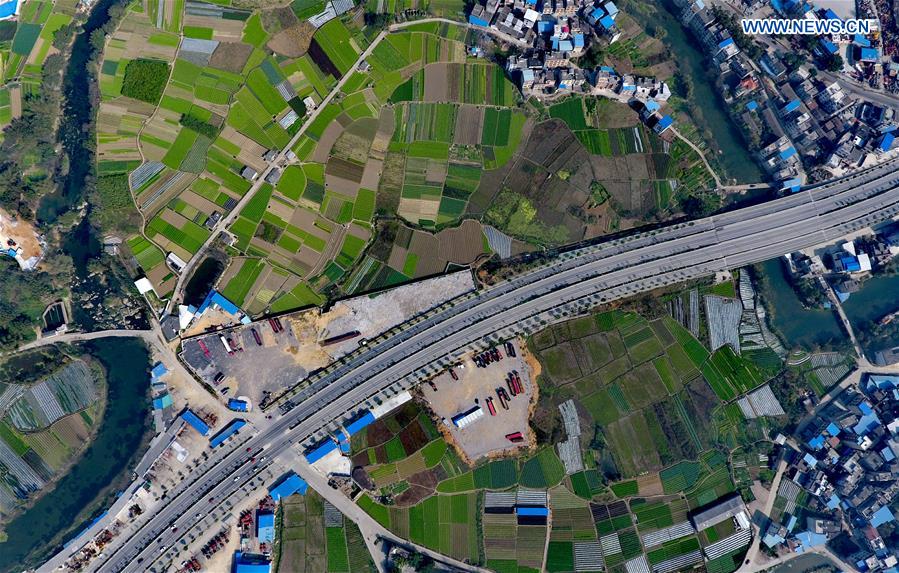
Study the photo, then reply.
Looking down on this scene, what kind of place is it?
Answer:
residential area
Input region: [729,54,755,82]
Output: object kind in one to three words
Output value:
house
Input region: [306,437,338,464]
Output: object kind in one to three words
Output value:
shed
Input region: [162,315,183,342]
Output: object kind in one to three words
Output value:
house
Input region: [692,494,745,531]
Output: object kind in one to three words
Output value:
shed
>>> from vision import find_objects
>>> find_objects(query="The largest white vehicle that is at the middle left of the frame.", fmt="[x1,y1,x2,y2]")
[219,334,234,355]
